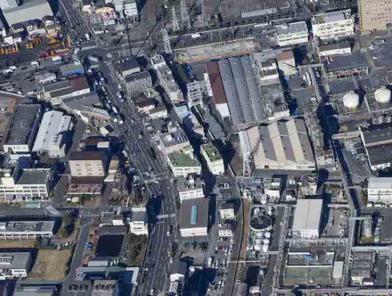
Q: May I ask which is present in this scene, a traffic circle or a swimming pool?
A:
swimming pool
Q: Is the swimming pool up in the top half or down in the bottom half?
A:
bottom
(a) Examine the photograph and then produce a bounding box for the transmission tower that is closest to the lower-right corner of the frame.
[234,131,254,180]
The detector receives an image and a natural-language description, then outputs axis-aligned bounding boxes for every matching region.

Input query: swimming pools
[94,232,126,257]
